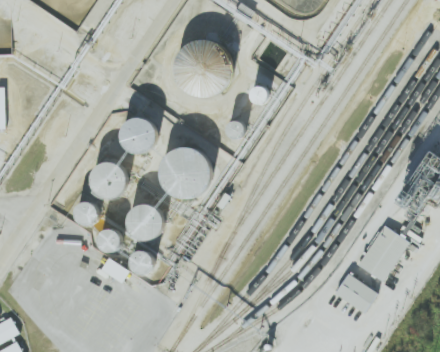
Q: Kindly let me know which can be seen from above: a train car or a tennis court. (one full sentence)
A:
There is a train car in the scene.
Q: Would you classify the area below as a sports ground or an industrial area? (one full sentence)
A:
This image shows an industrial area.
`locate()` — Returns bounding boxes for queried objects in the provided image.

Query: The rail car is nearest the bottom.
[243,306,270,330]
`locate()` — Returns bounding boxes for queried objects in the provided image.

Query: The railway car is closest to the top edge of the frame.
[413,31,433,58]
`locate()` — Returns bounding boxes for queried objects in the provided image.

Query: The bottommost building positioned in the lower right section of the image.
[338,274,379,312]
